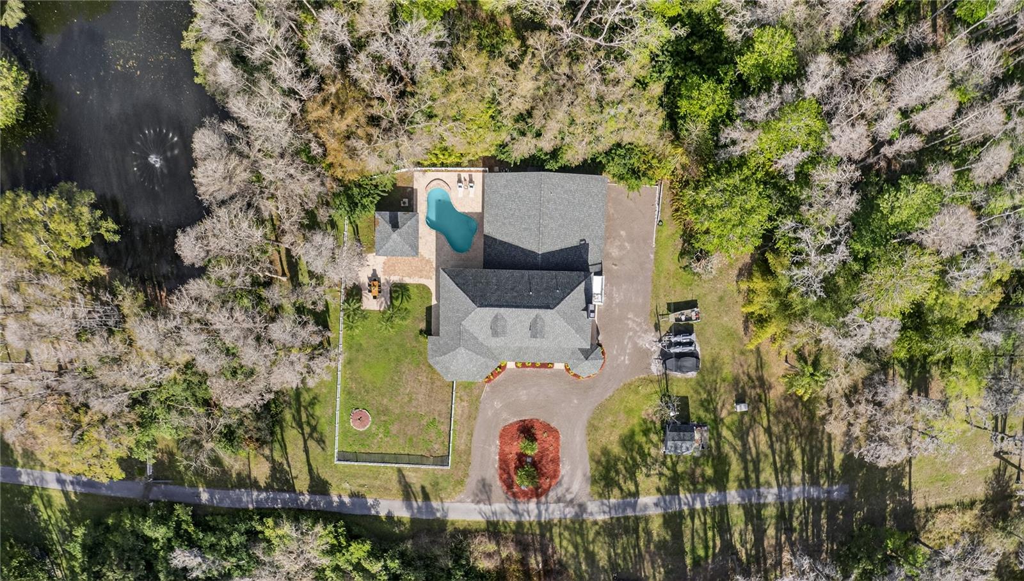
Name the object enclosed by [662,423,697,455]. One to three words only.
shed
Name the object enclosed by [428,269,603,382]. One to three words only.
house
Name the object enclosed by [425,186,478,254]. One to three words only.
swimming pool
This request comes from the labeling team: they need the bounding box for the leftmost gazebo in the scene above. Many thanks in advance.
[376,212,419,257]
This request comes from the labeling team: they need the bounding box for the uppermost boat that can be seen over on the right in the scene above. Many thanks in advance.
[669,309,704,321]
